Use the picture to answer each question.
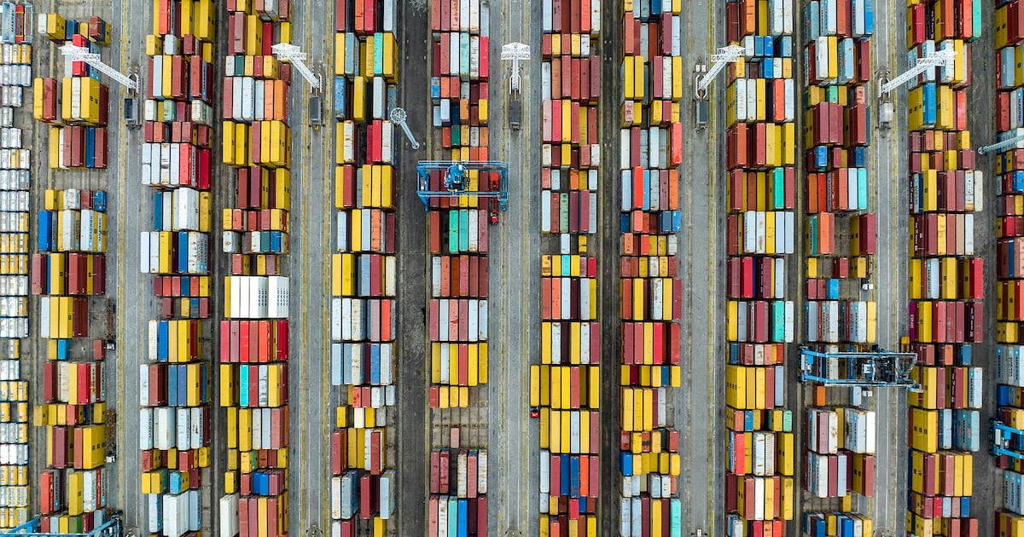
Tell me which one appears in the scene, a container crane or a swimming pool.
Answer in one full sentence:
The image shows a container crane.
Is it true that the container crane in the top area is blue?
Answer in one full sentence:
Yes, the container crane in the top area appears blue.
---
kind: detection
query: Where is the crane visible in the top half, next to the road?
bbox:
[413,160,512,210]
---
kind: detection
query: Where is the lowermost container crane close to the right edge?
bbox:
[992,421,1024,462]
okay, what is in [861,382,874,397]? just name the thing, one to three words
vehicle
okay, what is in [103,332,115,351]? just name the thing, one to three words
vehicle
